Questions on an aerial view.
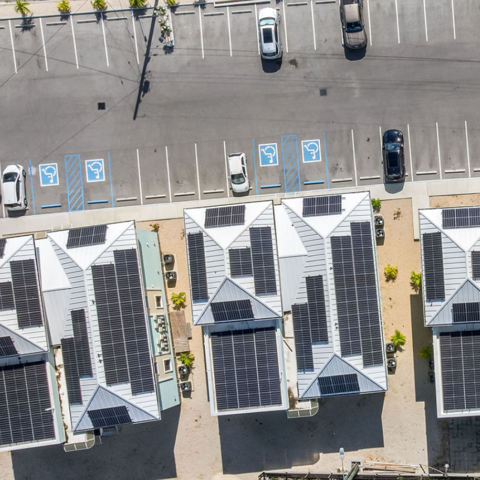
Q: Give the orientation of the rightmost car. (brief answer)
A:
from top to bottom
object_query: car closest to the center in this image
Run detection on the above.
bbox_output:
[227,153,251,194]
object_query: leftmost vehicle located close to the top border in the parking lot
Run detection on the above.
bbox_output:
[254,8,284,60]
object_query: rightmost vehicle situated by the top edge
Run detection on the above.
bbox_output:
[340,0,366,50]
